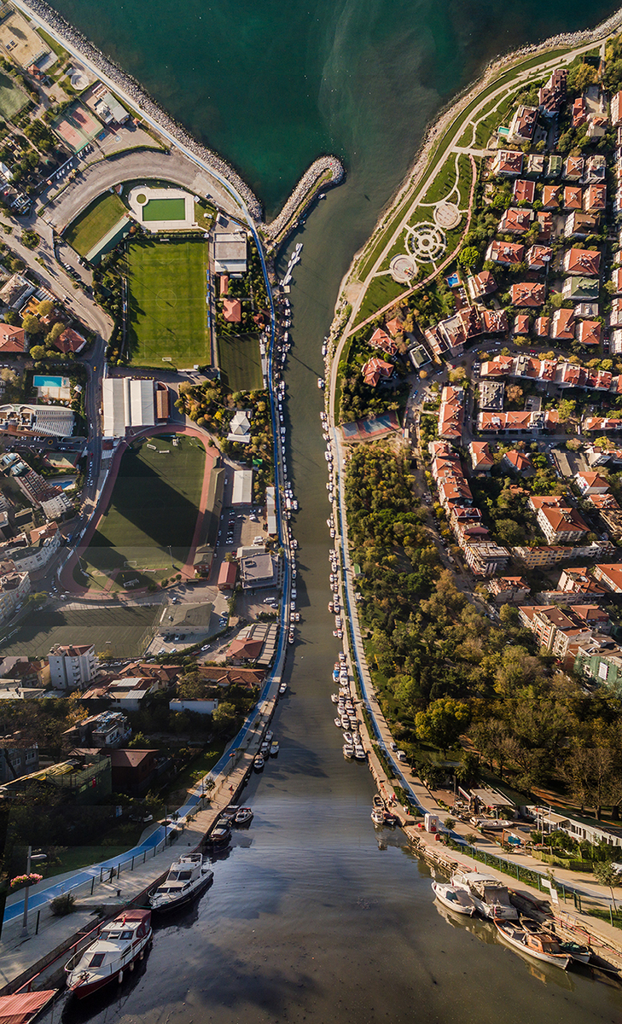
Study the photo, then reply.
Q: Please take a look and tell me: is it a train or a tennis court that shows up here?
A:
tennis court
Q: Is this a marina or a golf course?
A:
marina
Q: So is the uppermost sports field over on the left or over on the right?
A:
left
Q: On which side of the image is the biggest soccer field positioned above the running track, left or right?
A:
left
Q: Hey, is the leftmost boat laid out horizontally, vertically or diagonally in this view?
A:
diagonally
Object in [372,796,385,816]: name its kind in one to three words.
boat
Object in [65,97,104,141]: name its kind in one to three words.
tennis court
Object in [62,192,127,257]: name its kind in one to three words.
sports field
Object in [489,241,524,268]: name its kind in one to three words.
house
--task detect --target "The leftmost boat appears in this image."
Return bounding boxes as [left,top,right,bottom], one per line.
[71,913,162,1009]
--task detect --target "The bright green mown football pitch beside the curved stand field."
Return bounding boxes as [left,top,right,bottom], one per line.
[126,240,211,370]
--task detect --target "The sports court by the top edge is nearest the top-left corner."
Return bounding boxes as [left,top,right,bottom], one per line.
[0,8,49,67]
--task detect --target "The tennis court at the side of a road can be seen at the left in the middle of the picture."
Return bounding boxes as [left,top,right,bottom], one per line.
[42,452,81,468]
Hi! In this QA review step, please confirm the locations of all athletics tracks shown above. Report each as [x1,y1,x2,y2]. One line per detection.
[60,425,220,595]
